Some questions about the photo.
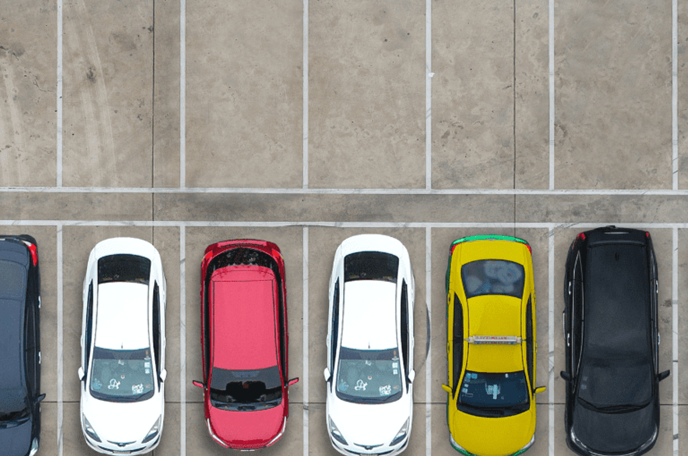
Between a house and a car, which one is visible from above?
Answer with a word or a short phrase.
car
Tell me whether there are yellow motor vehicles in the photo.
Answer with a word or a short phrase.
Yes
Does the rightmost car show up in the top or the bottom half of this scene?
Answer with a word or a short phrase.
bottom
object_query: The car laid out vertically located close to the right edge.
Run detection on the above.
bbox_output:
[558,224,671,456]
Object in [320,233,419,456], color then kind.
white car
